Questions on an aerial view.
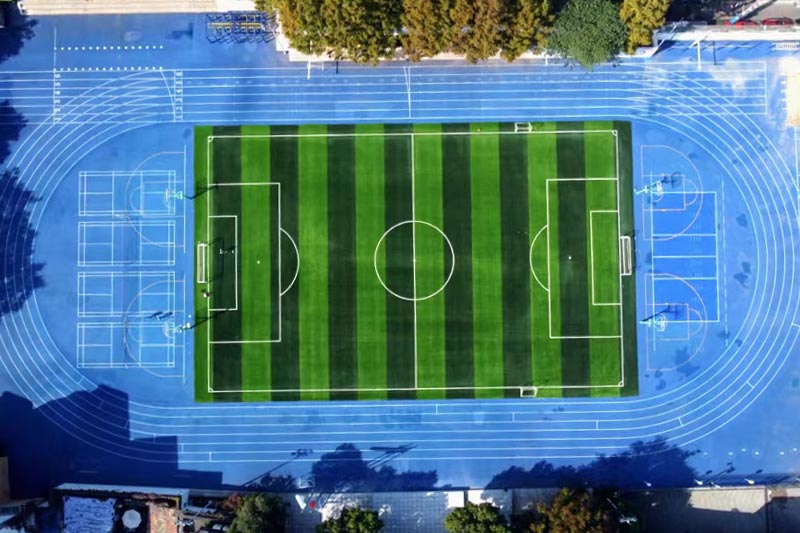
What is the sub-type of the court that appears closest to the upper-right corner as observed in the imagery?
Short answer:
basketball court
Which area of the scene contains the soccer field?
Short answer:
center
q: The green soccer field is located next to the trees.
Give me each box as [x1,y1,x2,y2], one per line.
[195,120,638,402]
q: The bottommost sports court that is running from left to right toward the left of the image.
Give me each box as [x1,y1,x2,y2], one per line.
[77,323,174,368]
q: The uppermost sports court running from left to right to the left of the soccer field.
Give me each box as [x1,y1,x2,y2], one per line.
[79,170,175,216]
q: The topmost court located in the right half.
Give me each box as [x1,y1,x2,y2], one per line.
[641,145,702,240]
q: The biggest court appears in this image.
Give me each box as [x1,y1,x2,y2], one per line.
[650,172,727,350]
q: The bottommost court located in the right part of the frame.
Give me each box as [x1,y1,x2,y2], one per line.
[645,274,706,370]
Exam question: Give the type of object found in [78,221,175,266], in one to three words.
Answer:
sports court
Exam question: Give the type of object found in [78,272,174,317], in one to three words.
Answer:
sports court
